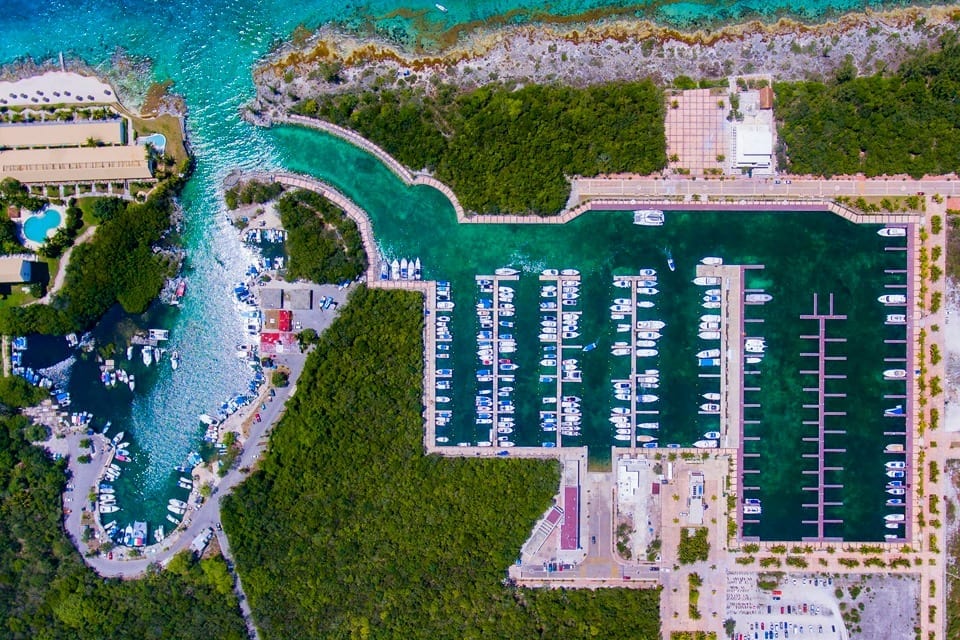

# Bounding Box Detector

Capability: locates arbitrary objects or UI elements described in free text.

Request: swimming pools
[136,133,168,156]
[17,203,68,250]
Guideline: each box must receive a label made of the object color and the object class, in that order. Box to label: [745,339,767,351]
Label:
white boat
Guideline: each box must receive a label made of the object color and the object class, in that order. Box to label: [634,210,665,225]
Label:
white boat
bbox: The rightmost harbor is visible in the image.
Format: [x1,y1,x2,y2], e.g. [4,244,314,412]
[274,120,922,549]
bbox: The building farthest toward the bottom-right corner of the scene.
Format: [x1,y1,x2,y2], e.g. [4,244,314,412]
[688,472,704,524]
